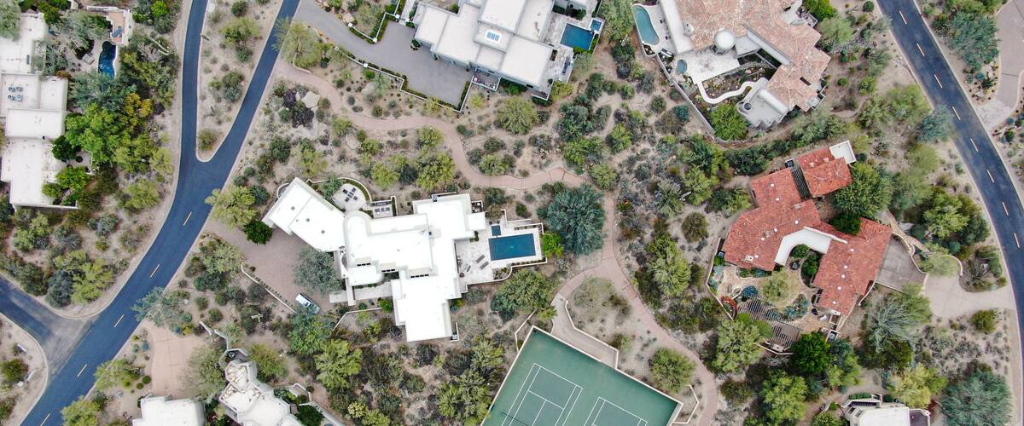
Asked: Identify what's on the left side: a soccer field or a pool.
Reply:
pool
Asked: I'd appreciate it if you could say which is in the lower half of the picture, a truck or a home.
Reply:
home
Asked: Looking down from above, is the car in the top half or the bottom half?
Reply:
bottom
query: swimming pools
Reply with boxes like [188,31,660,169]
[634,2,661,47]
[96,38,118,76]
[675,58,689,75]
[486,232,538,263]
[558,21,595,48]
[490,223,502,238]
[588,16,604,33]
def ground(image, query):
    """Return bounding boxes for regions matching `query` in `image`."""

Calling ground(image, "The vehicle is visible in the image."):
[296,293,321,314]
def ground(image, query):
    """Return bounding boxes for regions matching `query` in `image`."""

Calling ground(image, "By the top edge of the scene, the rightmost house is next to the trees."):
[655,0,830,131]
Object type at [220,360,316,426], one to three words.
house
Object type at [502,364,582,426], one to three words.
tennis court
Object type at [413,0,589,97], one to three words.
house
